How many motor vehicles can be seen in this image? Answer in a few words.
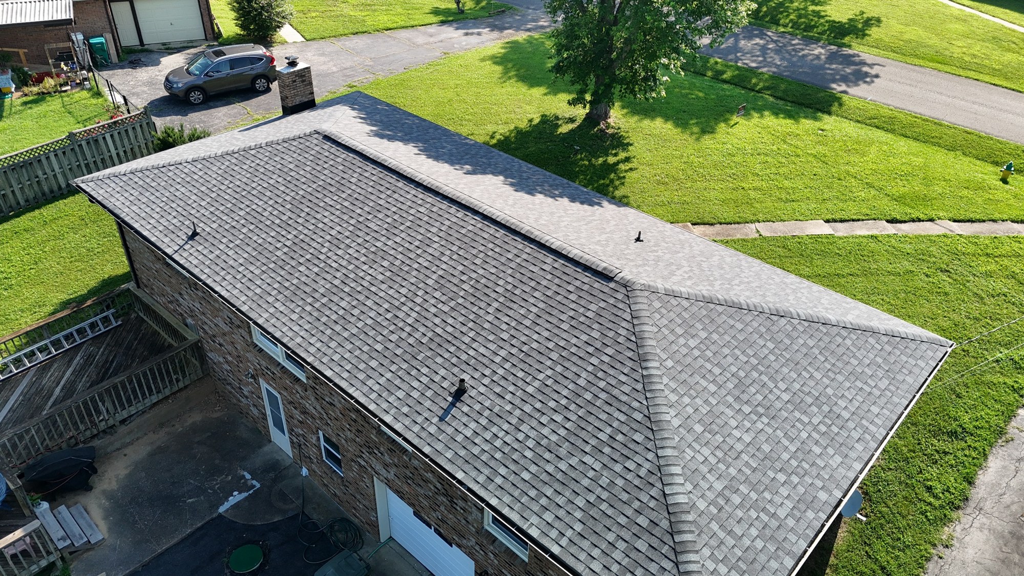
1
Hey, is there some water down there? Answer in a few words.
No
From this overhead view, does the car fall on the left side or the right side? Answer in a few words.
left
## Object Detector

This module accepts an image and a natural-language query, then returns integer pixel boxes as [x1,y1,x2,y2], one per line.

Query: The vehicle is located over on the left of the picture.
[162,41,278,104]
